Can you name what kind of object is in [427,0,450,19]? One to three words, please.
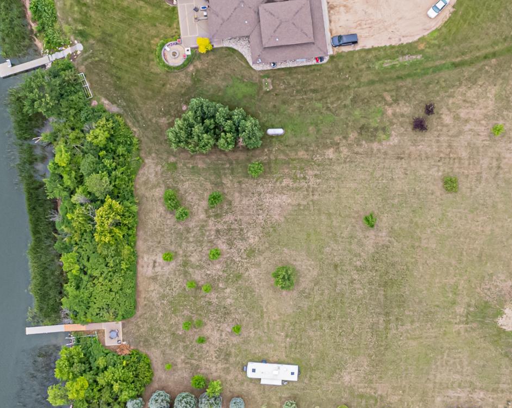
car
